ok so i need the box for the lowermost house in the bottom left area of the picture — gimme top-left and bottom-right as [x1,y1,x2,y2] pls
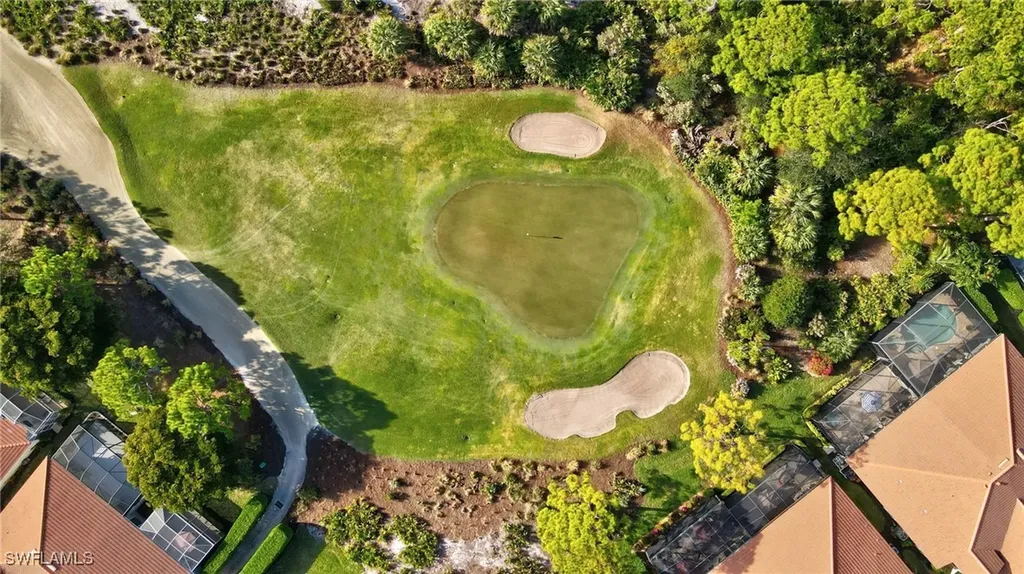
[0,457,198,574]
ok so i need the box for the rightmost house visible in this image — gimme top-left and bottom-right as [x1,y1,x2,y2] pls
[843,334,1024,574]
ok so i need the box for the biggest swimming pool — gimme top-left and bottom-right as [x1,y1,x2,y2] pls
[907,303,960,348]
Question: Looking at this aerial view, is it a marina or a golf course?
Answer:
golf course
